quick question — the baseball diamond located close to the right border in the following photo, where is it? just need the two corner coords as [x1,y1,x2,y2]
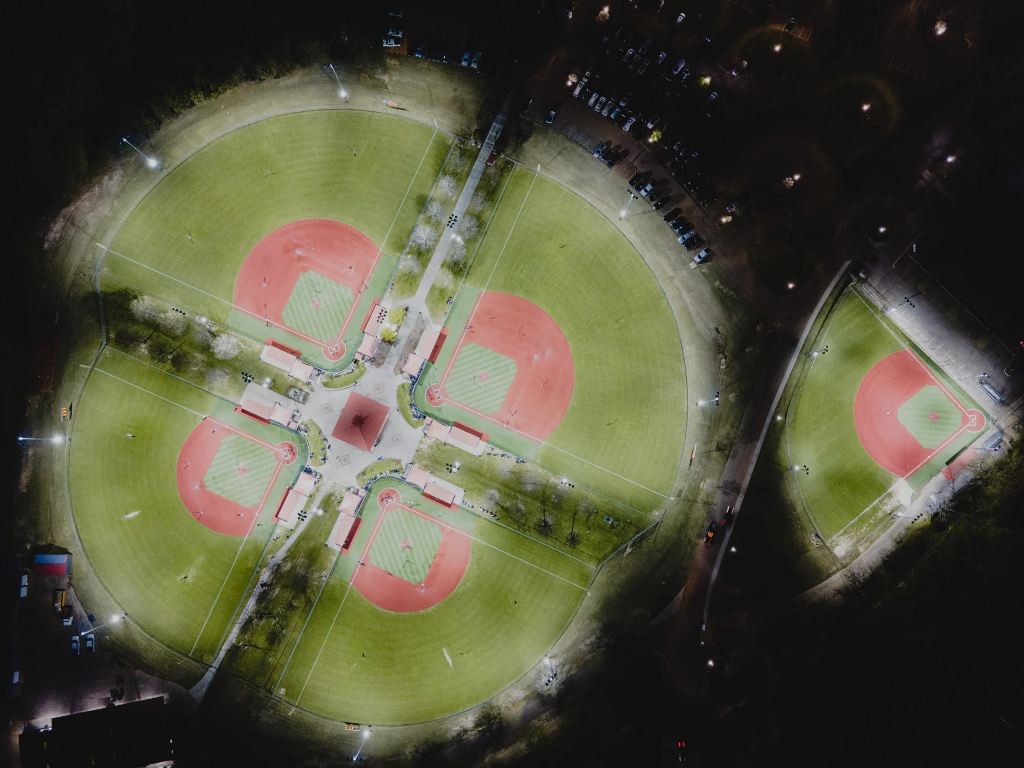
[786,285,993,560]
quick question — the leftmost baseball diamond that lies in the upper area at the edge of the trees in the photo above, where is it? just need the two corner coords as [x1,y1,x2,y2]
[99,109,456,373]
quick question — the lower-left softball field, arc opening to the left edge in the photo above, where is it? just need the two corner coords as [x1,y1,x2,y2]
[68,346,308,667]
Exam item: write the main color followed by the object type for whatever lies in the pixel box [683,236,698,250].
black car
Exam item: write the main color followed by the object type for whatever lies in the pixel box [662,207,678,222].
black vehicle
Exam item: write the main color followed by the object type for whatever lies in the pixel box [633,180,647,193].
black vehicle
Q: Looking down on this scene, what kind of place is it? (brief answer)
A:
sports ground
